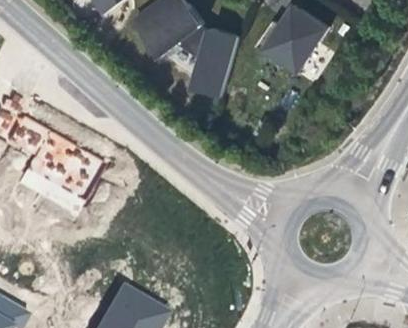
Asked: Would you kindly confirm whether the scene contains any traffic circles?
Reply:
Yes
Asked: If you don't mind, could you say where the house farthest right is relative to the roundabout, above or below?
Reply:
above it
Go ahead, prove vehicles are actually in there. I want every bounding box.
[380,168,394,194]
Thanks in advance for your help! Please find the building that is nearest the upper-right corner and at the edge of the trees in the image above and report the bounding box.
[254,4,332,80]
